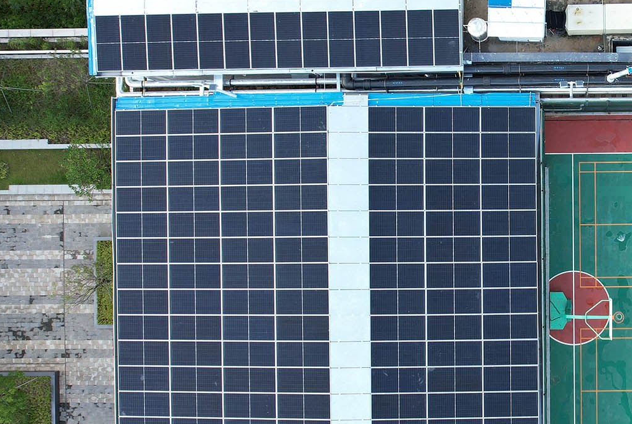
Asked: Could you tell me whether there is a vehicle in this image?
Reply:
No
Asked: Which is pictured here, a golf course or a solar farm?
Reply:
solar farm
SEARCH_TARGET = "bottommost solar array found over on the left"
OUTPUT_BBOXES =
[116,107,331,424]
